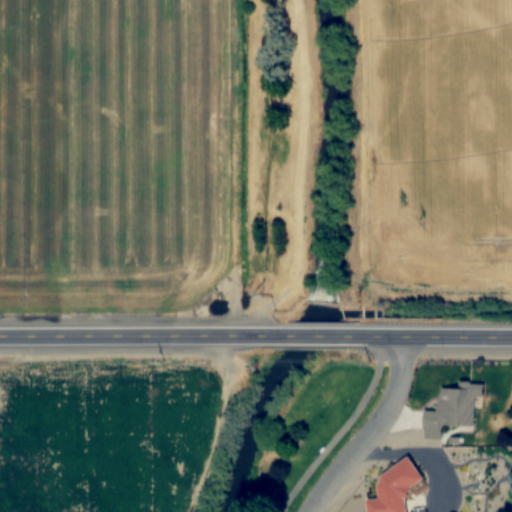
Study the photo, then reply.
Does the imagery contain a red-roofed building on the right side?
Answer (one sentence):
Yes, you'll find a red-roofed building on the right side.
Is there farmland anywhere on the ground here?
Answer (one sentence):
Yes, some farmland is visible.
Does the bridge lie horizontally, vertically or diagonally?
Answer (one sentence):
From this overhead view, the bridge appears to run horizontally.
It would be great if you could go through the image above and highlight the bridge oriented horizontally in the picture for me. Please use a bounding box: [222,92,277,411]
[235,321,372,358]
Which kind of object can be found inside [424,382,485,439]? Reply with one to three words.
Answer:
house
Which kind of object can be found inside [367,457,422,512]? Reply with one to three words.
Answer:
house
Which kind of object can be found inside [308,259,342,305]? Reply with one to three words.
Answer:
dam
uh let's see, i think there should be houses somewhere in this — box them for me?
[367,457,422,512]
[424,382,485,439]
